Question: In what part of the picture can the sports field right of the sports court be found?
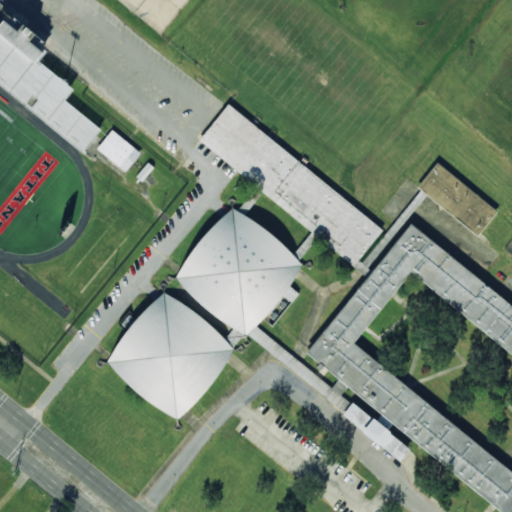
top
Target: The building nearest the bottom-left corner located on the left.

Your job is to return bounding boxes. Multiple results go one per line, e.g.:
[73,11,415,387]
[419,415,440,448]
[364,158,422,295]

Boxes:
[100,286,242,426]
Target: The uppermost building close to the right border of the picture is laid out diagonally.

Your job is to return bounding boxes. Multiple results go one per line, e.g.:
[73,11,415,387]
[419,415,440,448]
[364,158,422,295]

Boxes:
[419,163,498,236]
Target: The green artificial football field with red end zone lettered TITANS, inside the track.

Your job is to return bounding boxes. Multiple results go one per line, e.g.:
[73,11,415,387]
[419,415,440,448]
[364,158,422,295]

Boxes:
[0,100,84,254]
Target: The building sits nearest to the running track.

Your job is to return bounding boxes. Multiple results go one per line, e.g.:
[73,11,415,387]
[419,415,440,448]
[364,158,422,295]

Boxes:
[98,130,140,172]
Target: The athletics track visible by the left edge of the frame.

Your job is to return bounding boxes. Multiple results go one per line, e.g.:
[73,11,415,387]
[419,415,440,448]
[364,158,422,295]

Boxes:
[0,86,94,264]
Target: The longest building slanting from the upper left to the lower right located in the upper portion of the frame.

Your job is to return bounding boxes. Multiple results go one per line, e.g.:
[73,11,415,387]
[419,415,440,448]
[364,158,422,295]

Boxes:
[200,105,382,266]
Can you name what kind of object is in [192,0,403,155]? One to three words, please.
sports field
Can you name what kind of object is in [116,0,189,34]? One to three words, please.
sports court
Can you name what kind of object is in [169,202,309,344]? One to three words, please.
building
